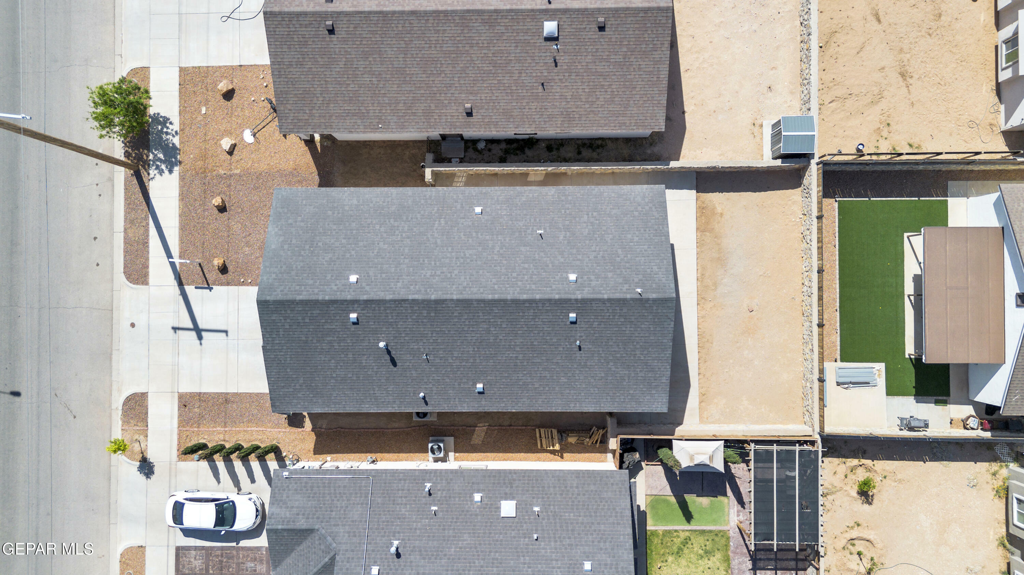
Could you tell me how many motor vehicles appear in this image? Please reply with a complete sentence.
My tally gives 1 motor vehicle in this photo.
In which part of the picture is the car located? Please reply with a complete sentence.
The car is located in the bottom left region of the scene.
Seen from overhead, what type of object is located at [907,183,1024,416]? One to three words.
house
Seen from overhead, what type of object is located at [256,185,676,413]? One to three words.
house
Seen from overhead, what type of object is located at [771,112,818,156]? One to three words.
shed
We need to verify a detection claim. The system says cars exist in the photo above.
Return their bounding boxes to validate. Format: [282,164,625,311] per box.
[164,489,264,536]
